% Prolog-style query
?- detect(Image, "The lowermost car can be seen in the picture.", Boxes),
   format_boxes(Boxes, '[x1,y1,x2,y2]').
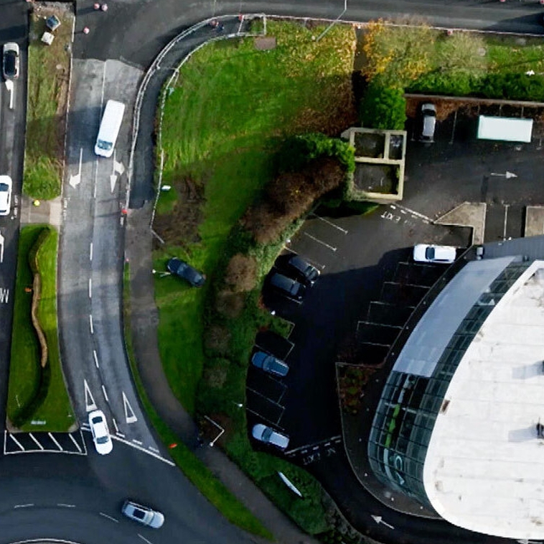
[121,499,163,526]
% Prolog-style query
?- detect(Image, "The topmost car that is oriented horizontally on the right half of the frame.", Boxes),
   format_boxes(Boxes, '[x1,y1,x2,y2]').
[412,243,457,264]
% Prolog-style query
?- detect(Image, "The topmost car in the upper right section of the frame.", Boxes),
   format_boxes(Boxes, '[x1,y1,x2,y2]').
[416,104,439,144]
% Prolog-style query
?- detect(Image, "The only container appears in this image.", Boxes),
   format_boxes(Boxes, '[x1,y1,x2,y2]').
[473,116,533,142]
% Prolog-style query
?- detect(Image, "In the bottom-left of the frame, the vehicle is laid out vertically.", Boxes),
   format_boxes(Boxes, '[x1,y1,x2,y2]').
[89,408,111,453]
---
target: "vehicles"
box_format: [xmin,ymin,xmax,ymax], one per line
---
[266,271,305,298]
[121,499,163,526]
[0,42,20,83]
[412,243,457,264]
[249,350,291,376]
[284,252,322,285]
[0,176,12,215]
[89,408,111,453]
[249,424,291,451]
[416,104,439,144]
[93,96,123,158]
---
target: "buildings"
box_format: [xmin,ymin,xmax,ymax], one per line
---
[347,126,407,205]
[369,233,544,540]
